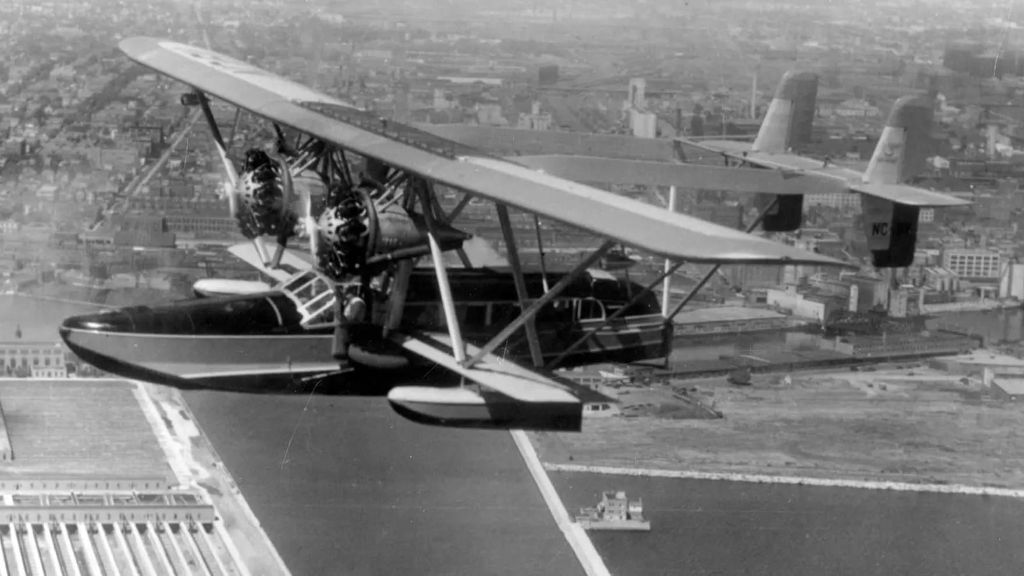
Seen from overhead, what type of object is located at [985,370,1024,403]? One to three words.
building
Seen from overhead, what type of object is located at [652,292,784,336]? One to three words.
shed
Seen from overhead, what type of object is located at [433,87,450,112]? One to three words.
building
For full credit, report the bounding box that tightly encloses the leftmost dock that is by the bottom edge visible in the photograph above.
[510,429,613,576]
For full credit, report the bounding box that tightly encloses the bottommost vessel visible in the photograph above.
[572,489,650,529]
